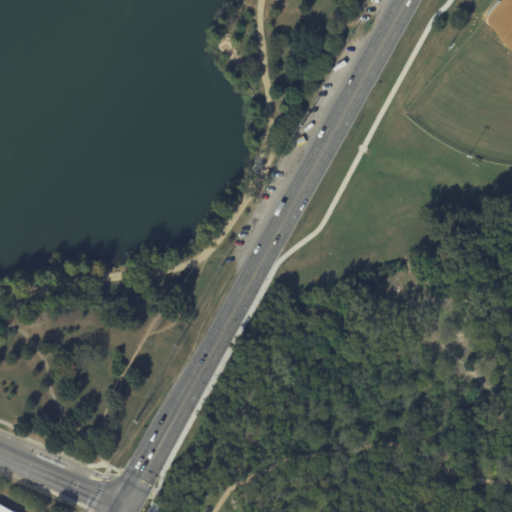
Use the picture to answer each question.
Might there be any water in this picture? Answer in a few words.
Yes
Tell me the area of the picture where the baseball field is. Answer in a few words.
top right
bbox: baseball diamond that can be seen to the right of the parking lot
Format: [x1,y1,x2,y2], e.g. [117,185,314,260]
[406,0,512,164]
